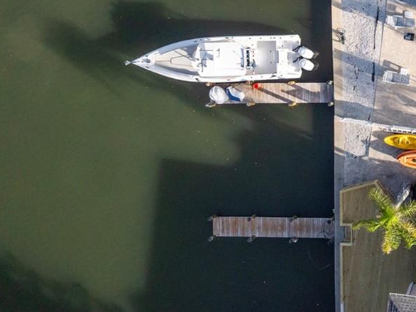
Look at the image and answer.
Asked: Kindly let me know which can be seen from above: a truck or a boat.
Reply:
boat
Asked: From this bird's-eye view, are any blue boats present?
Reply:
No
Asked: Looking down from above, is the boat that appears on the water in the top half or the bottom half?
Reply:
top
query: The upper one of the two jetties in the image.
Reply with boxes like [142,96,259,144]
[206,80,334,108]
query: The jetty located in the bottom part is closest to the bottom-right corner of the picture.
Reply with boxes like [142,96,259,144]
[209,211,335,243]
